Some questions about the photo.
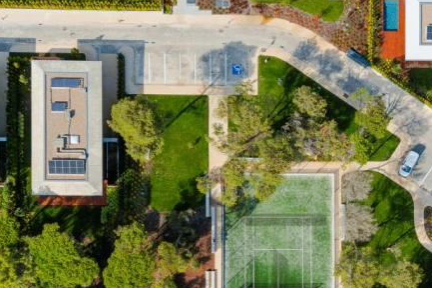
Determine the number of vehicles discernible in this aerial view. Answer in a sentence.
I count 2 vehicles.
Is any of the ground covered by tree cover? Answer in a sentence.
Yes, there's tree cover in this view.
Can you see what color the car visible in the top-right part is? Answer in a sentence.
The car visible in the top-right part looks blue in the image.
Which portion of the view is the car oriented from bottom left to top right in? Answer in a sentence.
You can find the car oriented from bottom left to top right in the right area of the picture.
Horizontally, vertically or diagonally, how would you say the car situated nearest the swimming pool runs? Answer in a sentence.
The car situated nearest the swimming pool is oriented diagonally.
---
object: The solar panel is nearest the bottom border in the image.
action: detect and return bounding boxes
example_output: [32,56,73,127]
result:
[47,160,86,176]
